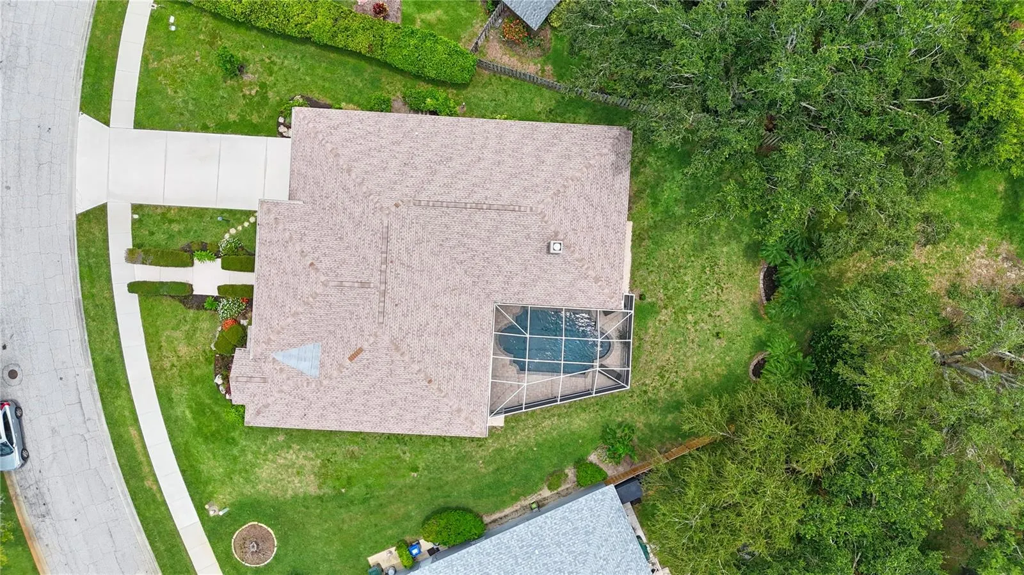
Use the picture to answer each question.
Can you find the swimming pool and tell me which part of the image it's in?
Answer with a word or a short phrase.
center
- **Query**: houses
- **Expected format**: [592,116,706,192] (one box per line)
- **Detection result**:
[394,479,653,575]
[229,105,632,439]
[497,0,562,36]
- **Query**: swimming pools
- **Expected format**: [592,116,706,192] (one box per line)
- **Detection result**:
[494,306,616,379]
